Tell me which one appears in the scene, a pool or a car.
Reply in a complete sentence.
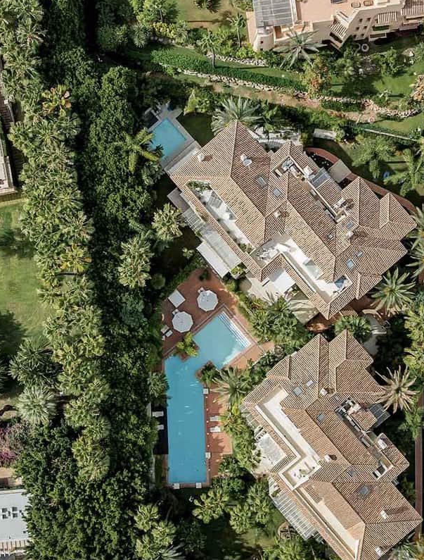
The image shows a pool.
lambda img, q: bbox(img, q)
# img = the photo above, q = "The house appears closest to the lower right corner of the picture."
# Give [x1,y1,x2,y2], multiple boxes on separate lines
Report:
[238,330,423,560]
